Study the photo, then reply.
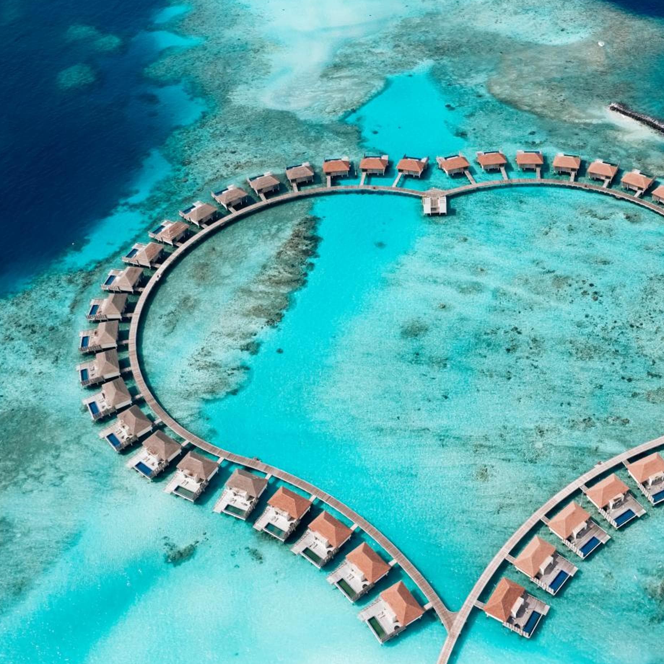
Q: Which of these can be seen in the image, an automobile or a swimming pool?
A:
swimming pool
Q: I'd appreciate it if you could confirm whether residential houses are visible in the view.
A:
Yes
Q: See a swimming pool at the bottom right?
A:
Yes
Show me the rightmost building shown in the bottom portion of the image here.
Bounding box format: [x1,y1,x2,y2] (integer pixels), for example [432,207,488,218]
[627,453,664,508]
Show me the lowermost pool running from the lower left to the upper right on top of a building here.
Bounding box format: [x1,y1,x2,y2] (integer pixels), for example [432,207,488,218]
[521,611,541,635]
